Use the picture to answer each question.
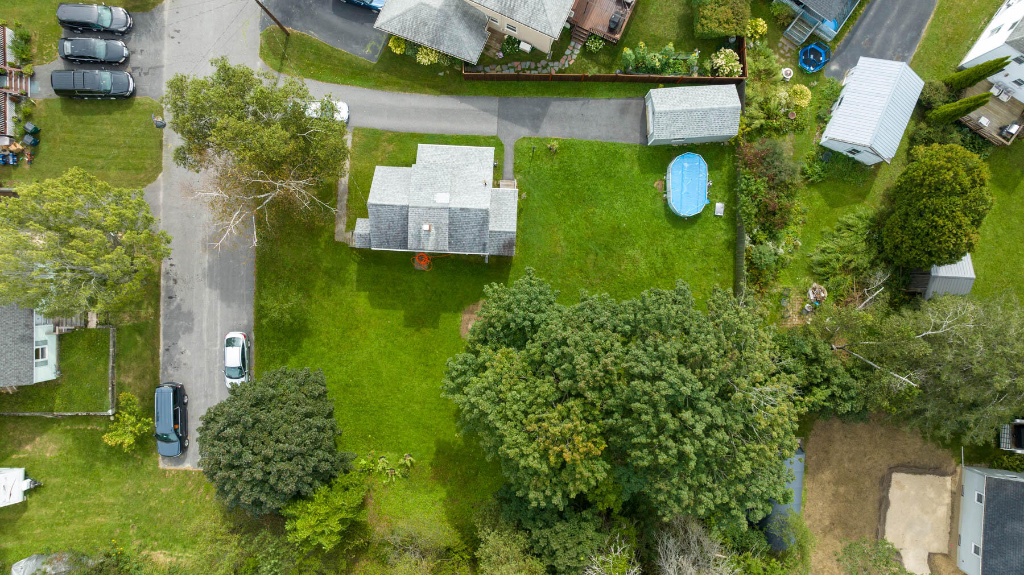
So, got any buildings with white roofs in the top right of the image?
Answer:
Yes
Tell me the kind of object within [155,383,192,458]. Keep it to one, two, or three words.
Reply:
car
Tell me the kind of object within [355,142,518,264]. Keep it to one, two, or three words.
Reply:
house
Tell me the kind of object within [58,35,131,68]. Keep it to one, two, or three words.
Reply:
car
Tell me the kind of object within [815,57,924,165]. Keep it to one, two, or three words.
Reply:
building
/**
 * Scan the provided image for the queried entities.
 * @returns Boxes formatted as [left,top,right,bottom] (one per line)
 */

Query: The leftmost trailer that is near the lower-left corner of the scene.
[0,464,46,508]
